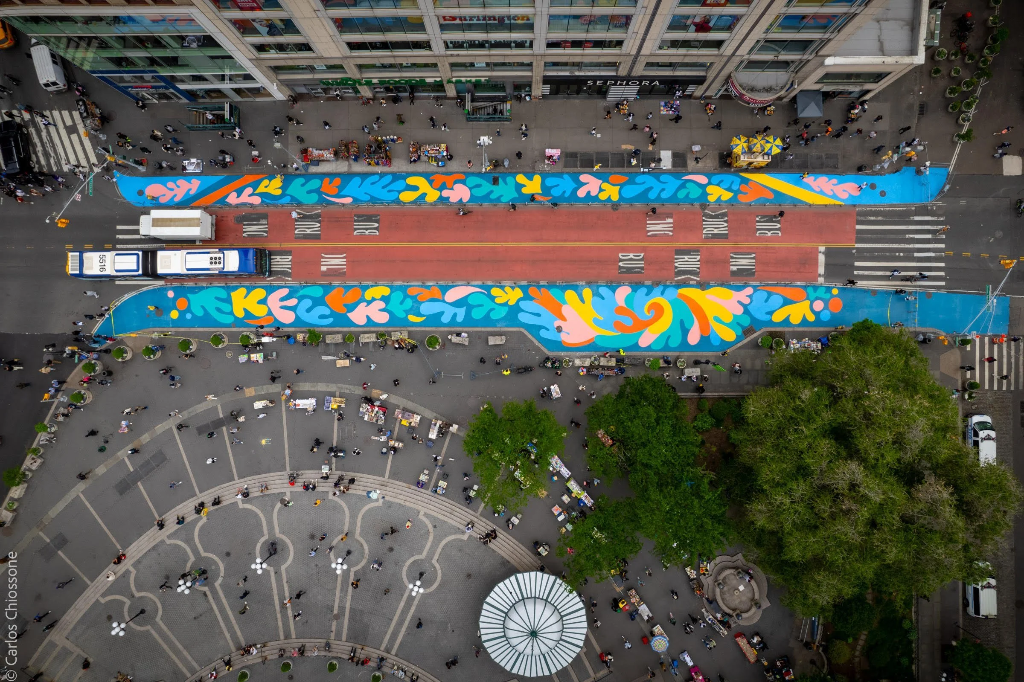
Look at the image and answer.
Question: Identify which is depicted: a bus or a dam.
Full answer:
I can see a bus in this picture.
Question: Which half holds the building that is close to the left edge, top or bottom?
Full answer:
The building that is close to the left edge sits in the top half of the picture.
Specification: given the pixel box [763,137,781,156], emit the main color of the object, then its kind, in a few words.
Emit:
yellow umbrella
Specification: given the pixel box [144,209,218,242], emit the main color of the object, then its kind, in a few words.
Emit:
white truck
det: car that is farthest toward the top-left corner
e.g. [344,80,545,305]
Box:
[0,20,25,55]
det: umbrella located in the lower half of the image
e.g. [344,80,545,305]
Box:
[650,633,668,651]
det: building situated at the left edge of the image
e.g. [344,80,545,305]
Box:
[0,0,284,103]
